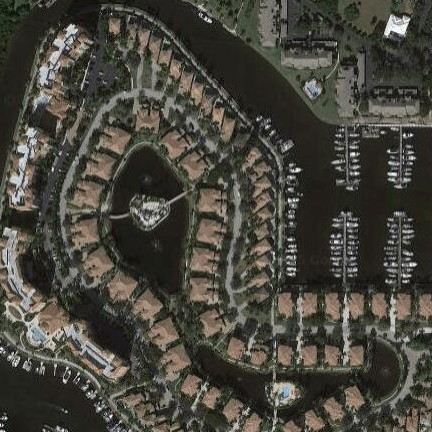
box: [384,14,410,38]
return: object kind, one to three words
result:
building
